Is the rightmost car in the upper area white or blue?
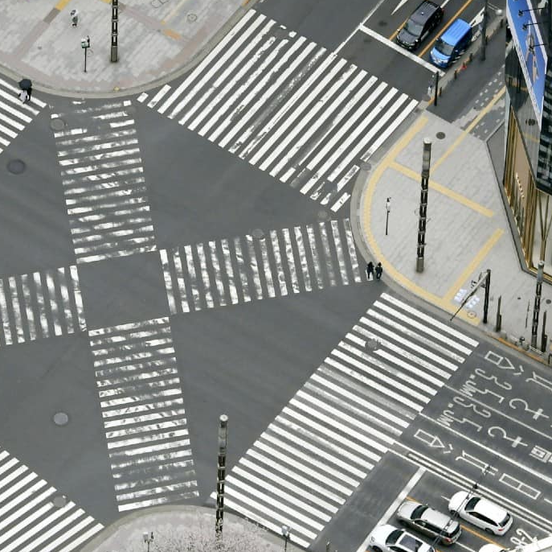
blue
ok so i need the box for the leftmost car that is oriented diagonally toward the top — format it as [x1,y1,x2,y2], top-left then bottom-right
[394,0,446,50]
